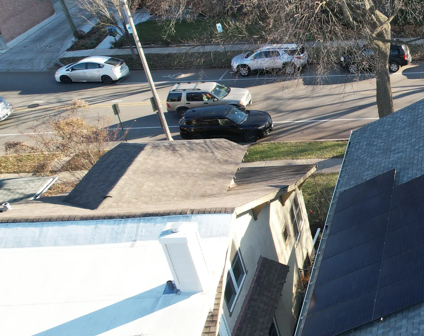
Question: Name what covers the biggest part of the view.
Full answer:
The largest share of the image is taken up by buildings.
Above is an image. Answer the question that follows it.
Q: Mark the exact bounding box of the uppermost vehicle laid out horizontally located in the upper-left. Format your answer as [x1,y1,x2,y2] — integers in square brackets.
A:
[48,53,130,85]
